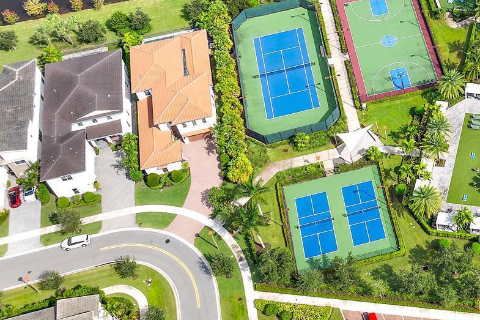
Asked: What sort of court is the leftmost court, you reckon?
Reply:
tennis court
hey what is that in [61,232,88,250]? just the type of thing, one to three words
car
